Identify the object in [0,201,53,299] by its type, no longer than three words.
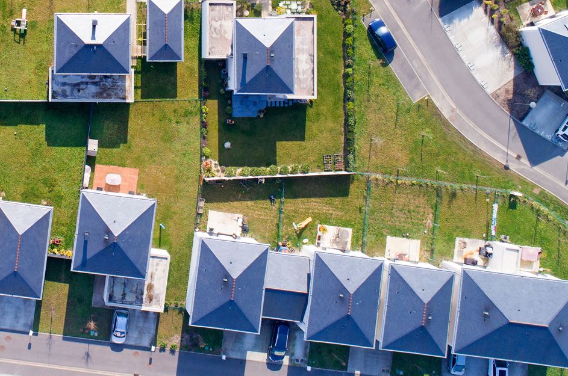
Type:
building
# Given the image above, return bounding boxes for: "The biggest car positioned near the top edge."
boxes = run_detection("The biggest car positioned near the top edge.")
[369,18,396,54]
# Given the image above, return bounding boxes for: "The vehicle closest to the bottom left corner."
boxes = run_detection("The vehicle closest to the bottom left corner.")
[111,309,130,344]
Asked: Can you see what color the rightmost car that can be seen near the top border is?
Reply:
blue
